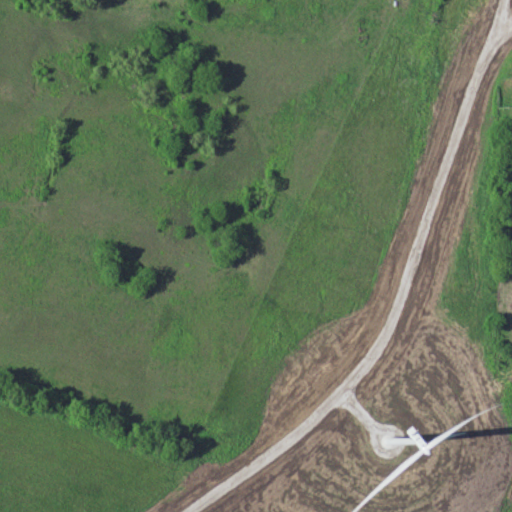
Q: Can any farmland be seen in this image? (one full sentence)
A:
Yes, farmland can be seen from above here.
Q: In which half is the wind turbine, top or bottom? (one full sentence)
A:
You can find the wind turbine in the bottom half.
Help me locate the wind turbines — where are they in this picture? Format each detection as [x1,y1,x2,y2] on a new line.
[352,406,502,512]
